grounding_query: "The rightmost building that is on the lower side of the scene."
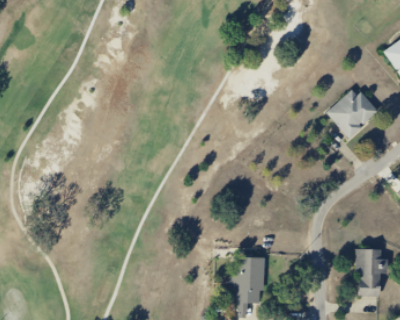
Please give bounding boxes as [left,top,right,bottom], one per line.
[356,249,389,296]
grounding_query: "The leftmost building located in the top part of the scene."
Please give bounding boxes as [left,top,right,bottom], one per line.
[328,90,378,138]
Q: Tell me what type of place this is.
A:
golf course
